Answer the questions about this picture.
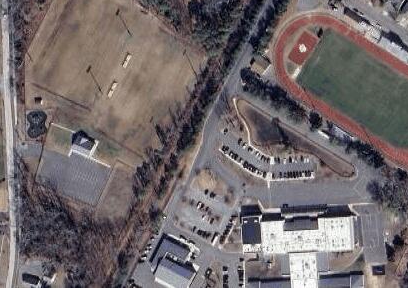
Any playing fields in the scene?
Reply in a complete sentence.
Yes, I can see a playing field in this picture.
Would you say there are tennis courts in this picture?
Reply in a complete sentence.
No, there is no tennis court in the image.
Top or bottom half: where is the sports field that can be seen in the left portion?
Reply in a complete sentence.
Seen from above, the sports field that can be seen in the left portion lies in the top half of the view.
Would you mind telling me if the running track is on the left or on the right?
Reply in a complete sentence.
You can find the running track on the right side of the picture.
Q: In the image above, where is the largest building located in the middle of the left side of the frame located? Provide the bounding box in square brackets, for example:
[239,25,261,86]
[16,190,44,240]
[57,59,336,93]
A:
[72,134,98,157]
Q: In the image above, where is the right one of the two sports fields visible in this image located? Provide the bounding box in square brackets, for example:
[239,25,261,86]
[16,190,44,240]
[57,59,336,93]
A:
[283,25,408,149]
